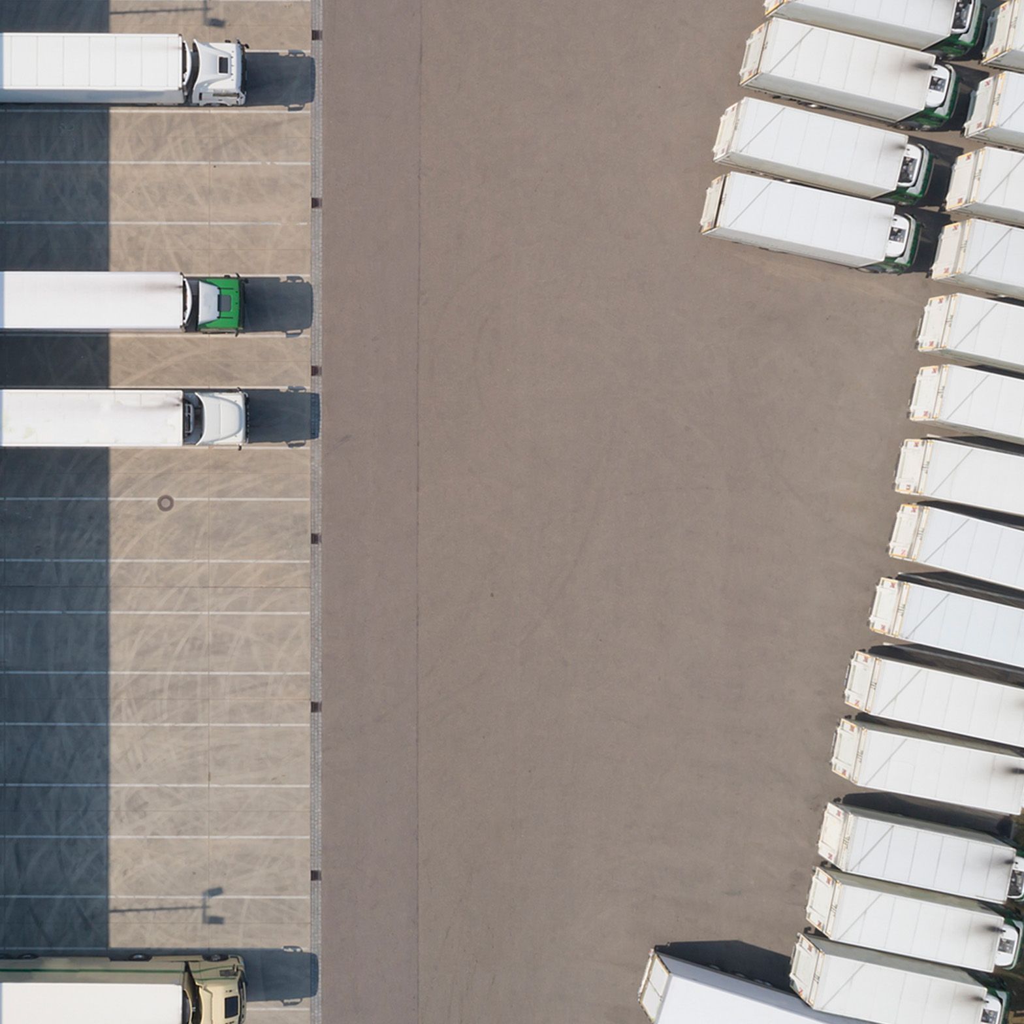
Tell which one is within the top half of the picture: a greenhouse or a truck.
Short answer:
truck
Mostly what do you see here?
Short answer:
paved ground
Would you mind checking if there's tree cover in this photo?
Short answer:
No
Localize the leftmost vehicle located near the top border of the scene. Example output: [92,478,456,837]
[0,33,249,108]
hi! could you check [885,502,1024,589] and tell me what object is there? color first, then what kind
white truck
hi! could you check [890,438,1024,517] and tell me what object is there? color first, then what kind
white truck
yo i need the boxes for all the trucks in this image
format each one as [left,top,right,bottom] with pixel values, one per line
[885,502,1024,589]
[697,172,924,279]
[976,0,1024,73]
[0,33,249,108]
[867,576,1024,667]
[0,270,249,336]
[787,931,1016,1024]
[0,386,249,451]
[828,715,1024,815]
[841,648,1024,747]
[763,0,991,62]
[803,864,1024,974]
[927,218,1024,300]
[914,293,1024,376]
[890,438,1024,517]
[0,952,249,1024]
[708,97,935,211]
[814,798,1024,906]
[942,146,1024,229]
[905,364,1024,445]
[963,70,1024,152]
[737,18,964,134]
